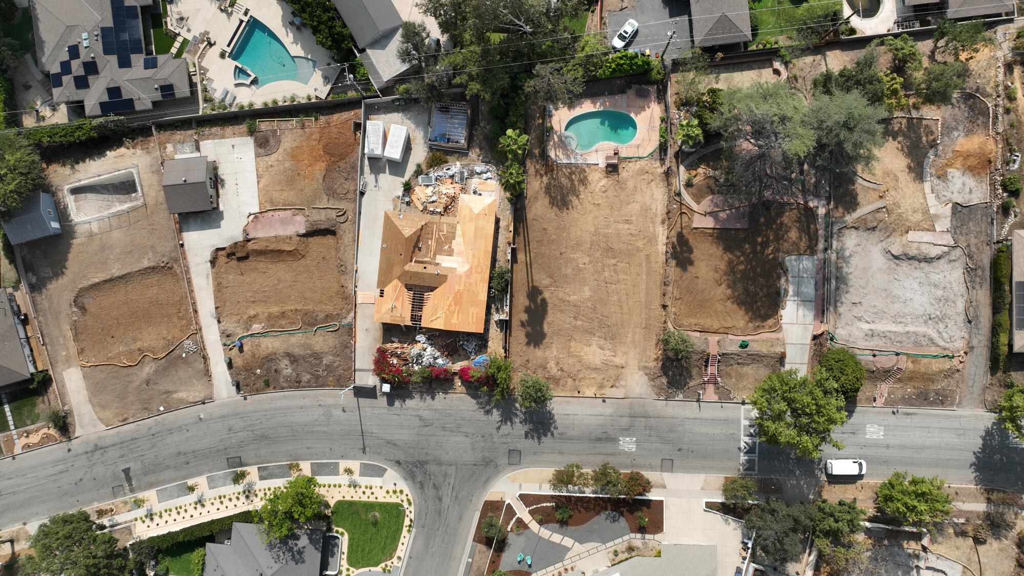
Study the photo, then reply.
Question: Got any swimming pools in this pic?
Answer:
Yes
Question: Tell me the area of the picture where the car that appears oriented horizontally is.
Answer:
bottom right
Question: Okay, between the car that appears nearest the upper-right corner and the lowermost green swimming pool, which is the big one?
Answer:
the swimming pool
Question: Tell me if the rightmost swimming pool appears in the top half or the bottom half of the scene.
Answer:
top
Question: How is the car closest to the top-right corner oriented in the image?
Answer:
diagonally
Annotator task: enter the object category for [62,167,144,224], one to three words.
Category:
swimming pool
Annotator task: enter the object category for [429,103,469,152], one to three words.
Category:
shed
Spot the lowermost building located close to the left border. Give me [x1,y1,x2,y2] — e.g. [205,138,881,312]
[0,288,46,386]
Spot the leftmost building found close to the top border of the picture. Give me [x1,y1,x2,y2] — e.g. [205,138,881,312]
[33,0,199,117]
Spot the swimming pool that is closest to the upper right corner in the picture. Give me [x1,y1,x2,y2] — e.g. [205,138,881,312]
[841,0,883,20]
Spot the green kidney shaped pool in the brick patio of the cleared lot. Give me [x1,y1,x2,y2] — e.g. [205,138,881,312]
[562,108,639,154]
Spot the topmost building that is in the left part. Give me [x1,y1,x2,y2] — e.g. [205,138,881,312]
[341,0,403,50]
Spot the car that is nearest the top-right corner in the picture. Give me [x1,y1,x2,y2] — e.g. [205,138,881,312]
[610,11,643,52]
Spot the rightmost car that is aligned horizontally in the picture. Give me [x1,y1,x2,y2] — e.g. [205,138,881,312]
[827,459,869,479]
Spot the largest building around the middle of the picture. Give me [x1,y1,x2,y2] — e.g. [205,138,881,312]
[374,195,496,332]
